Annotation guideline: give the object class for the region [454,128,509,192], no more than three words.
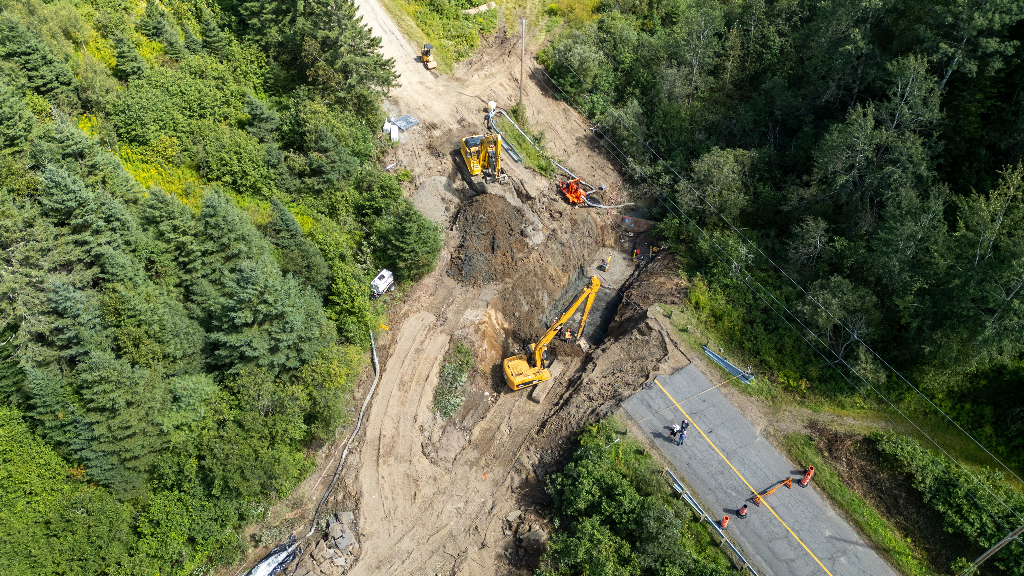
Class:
work vehicle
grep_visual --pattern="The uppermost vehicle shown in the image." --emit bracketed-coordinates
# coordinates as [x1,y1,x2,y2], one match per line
[413,39,440,73]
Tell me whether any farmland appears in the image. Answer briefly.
No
